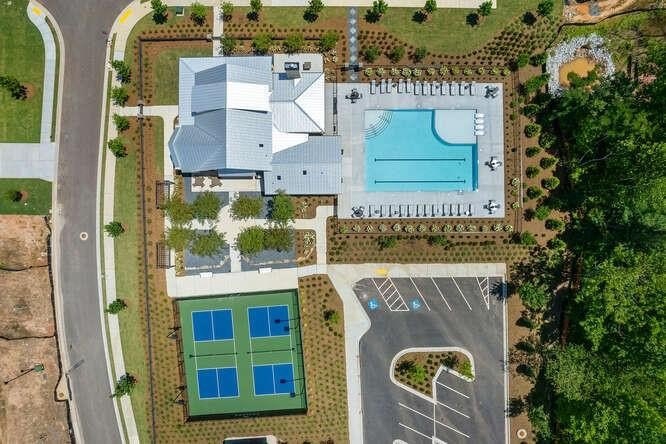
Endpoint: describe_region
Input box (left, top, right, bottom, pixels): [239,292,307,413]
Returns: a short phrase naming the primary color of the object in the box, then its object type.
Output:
green sports court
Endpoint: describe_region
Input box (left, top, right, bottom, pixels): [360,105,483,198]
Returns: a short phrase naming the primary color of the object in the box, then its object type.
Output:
blue swimming pool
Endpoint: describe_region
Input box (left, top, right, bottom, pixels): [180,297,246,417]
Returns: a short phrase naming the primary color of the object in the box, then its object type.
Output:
green sports court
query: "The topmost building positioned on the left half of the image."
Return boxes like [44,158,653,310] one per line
[168,53,343,195]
